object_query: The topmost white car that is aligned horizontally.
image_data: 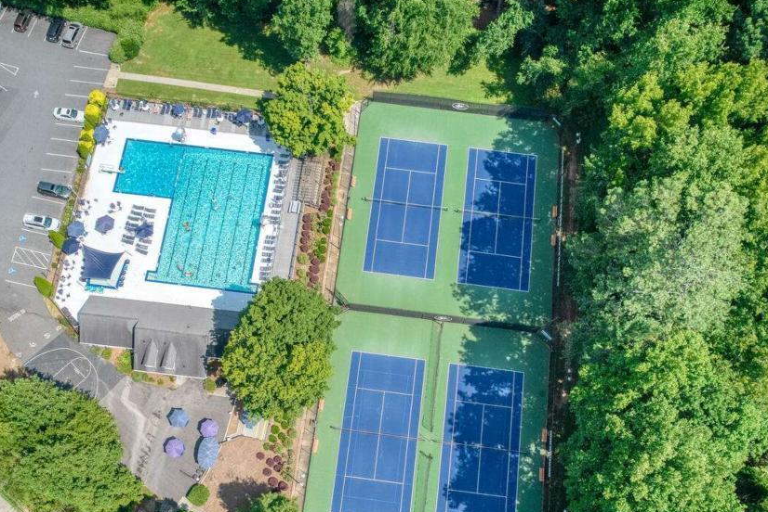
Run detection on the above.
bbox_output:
[53,108,85,123]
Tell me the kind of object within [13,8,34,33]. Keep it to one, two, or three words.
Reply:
car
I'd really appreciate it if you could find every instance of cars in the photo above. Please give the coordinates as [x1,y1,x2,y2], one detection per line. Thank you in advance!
[38,182,71,199]
[25,214,58,231]
[62,22,82,47]
[13,8,34,33]
[53,108,85,123]
[46,17,66,42]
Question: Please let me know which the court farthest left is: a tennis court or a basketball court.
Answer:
basketball court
